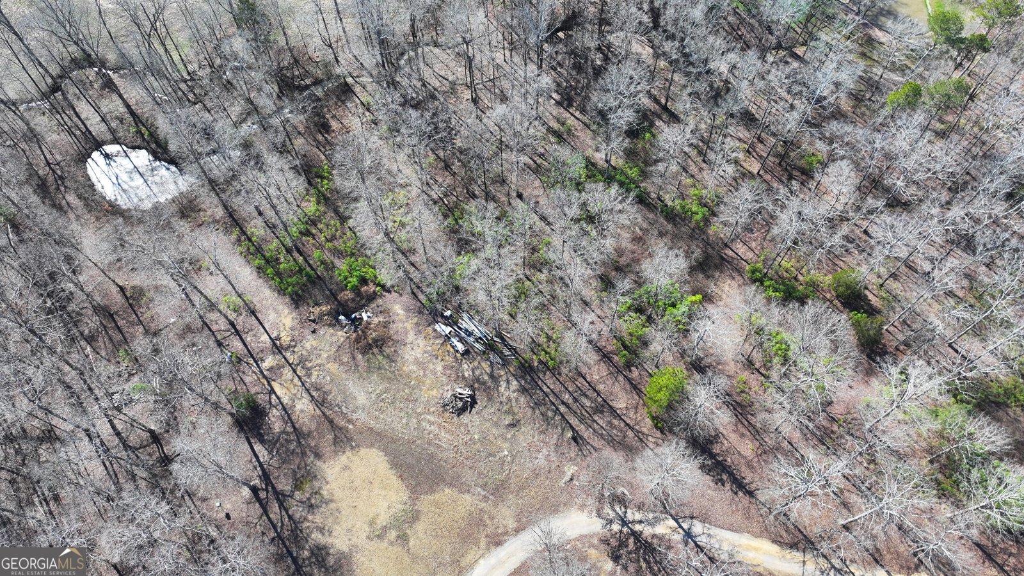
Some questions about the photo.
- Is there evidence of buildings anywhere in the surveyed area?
No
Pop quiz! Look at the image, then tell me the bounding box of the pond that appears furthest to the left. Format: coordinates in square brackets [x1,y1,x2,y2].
[89,146,188,210]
